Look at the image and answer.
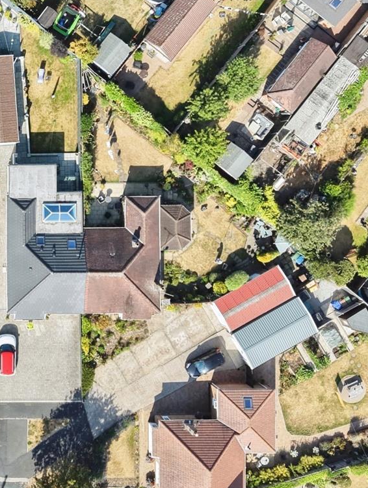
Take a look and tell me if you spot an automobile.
Yes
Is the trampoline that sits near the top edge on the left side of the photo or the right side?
left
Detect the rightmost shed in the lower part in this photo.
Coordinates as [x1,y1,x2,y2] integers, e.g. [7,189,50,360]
[338,307,368,334]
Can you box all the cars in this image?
[187,349,229,380]
[0,336,19,377]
